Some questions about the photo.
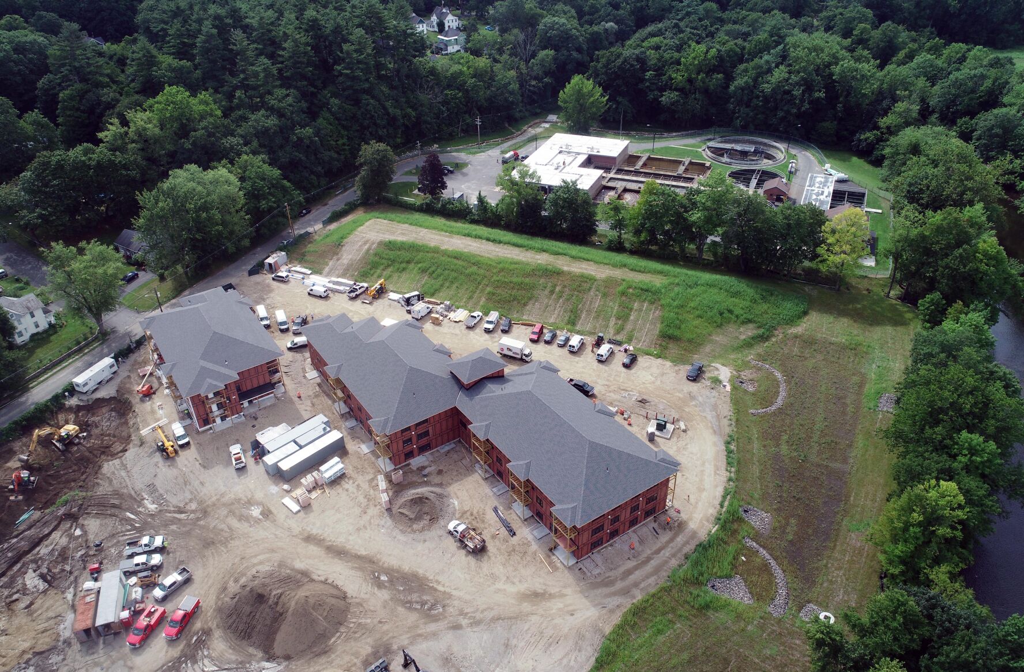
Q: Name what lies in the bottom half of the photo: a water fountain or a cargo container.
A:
cargo container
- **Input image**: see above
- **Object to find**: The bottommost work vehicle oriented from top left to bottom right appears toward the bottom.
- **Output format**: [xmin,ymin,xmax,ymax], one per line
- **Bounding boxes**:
[394,647,429,672]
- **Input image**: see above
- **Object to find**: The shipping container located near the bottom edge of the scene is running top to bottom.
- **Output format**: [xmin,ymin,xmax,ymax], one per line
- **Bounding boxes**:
[74,592,100,644]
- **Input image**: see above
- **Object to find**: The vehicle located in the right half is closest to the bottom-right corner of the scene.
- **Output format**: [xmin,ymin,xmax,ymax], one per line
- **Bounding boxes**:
[686,360,706,380]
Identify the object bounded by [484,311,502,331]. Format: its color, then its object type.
white vehicle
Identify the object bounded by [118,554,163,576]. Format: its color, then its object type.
white truck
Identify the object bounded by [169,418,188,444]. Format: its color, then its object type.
white vehicle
